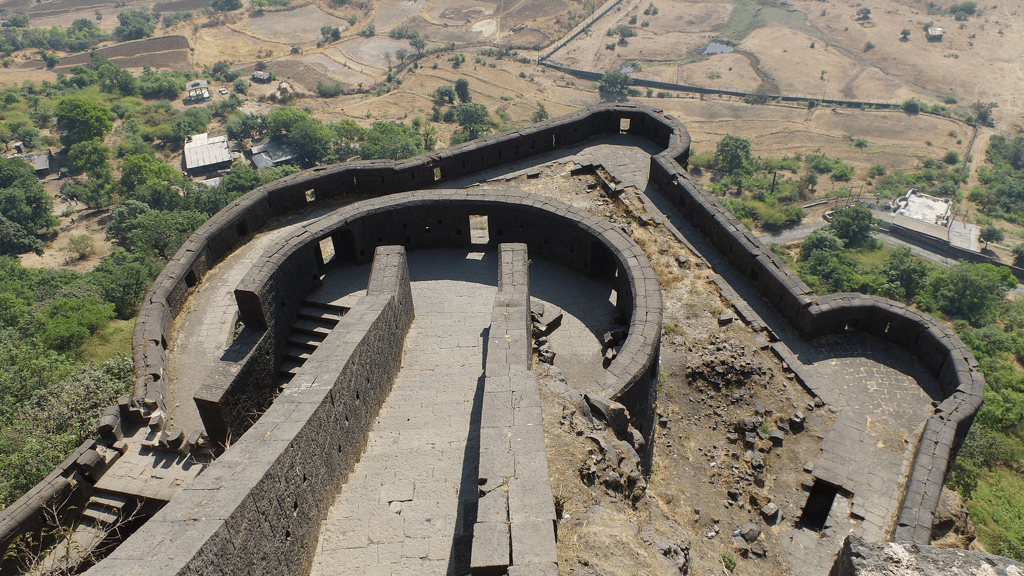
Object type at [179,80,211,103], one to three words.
building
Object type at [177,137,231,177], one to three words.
house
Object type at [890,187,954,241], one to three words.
house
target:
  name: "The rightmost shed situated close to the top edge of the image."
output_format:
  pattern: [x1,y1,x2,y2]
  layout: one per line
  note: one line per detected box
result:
[921,26,946,42]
